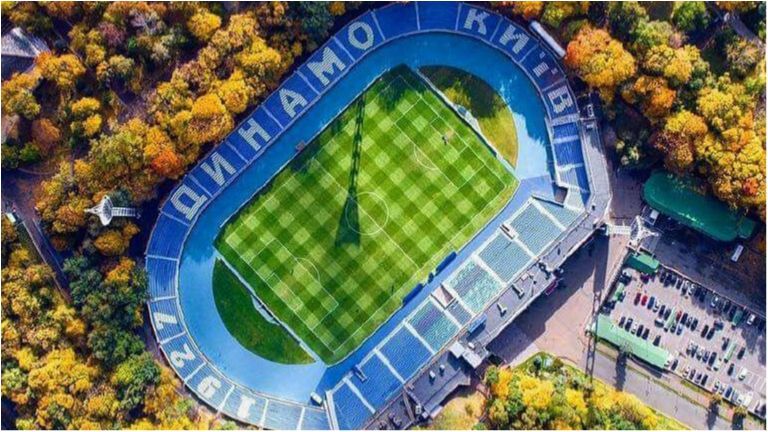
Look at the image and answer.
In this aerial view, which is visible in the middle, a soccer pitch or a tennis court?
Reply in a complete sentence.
The feature located in the middle is a soccer pitch.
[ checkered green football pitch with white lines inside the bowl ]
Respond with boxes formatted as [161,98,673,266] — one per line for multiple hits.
[213,63,519,366]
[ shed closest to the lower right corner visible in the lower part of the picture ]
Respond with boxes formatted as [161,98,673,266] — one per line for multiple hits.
[596,315,669,368]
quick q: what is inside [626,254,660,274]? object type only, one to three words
house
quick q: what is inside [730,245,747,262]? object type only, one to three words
vehicle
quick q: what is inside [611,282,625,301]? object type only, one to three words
vehicle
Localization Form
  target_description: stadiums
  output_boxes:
[144,0,611,432]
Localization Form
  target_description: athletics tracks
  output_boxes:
[178,31,563,408]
